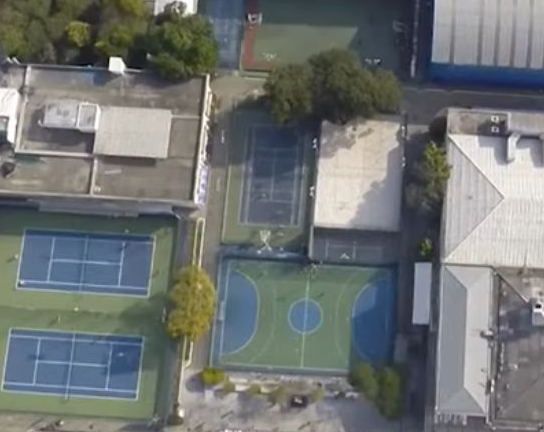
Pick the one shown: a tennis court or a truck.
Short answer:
tennis court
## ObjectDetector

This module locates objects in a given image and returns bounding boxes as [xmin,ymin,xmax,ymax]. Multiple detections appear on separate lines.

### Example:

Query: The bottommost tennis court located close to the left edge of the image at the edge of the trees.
[0,307,172,421]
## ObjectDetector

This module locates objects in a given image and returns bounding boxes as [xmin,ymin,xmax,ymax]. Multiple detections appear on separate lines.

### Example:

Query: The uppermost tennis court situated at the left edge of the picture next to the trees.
[0,210,179,316]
